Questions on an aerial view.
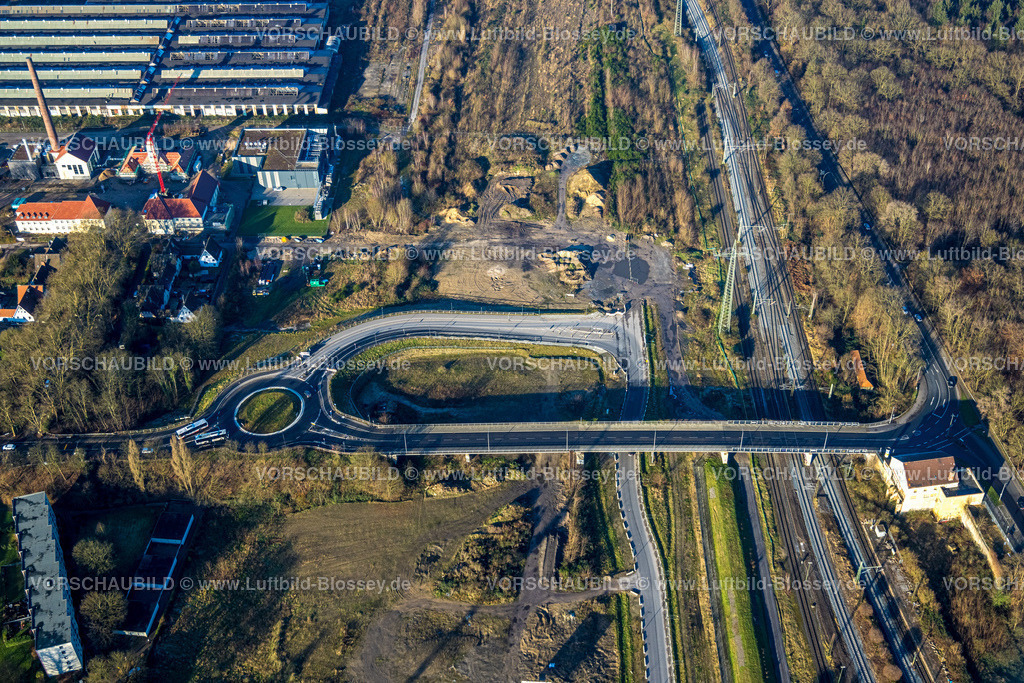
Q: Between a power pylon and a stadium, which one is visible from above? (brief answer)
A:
power pylon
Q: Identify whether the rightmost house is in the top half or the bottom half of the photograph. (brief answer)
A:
bottom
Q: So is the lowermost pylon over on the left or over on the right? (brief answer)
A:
right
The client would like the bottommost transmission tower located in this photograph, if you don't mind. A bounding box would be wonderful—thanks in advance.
[717,249,754,335]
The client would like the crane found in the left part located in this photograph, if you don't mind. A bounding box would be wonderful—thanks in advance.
[143,73,182,199]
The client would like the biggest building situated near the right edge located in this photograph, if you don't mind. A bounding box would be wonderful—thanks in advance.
[889,451,989,522]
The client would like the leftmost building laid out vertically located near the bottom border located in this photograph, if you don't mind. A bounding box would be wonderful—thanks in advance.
[15,491,86,678]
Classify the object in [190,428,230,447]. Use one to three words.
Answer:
vehicle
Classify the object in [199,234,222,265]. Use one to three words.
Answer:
house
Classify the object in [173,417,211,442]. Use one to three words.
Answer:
bus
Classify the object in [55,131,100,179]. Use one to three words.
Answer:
building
